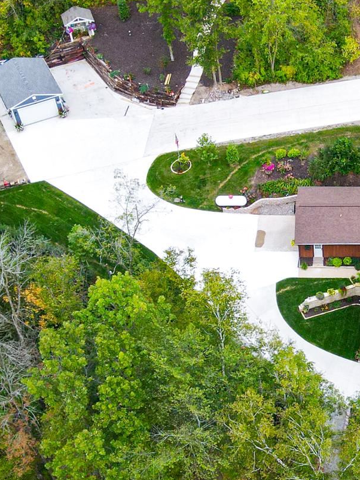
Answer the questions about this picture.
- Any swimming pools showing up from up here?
No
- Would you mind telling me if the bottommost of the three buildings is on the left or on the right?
right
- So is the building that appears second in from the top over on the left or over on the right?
left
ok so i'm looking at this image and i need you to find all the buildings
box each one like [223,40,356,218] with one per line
[59,2,94,41]
[294,187,360,266]
[0,57,65,127]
